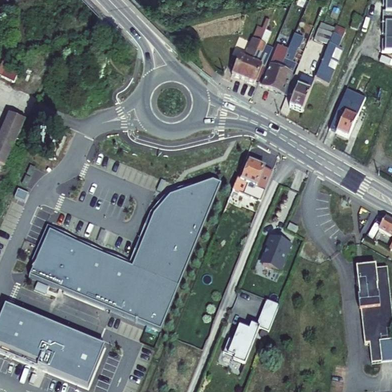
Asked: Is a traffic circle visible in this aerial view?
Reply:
Yes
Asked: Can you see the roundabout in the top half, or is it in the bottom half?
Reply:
top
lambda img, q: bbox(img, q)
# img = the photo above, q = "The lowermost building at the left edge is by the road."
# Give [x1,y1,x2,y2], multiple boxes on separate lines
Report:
[0,301,108,390]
